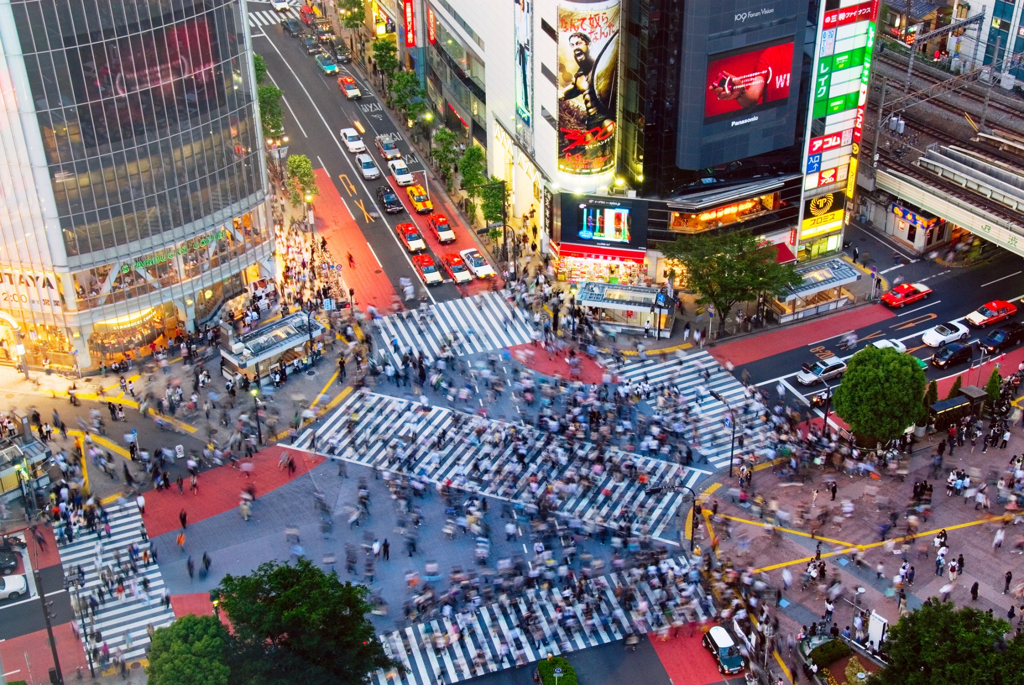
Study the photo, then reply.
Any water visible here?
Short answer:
No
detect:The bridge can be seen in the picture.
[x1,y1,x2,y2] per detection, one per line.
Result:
[871,40,1024,229]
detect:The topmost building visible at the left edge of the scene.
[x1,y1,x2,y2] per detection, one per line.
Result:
[0,0,276,373]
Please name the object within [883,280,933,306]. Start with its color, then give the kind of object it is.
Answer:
red car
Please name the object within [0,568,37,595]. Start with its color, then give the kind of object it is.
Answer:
white car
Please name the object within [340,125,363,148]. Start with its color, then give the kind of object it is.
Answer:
white car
